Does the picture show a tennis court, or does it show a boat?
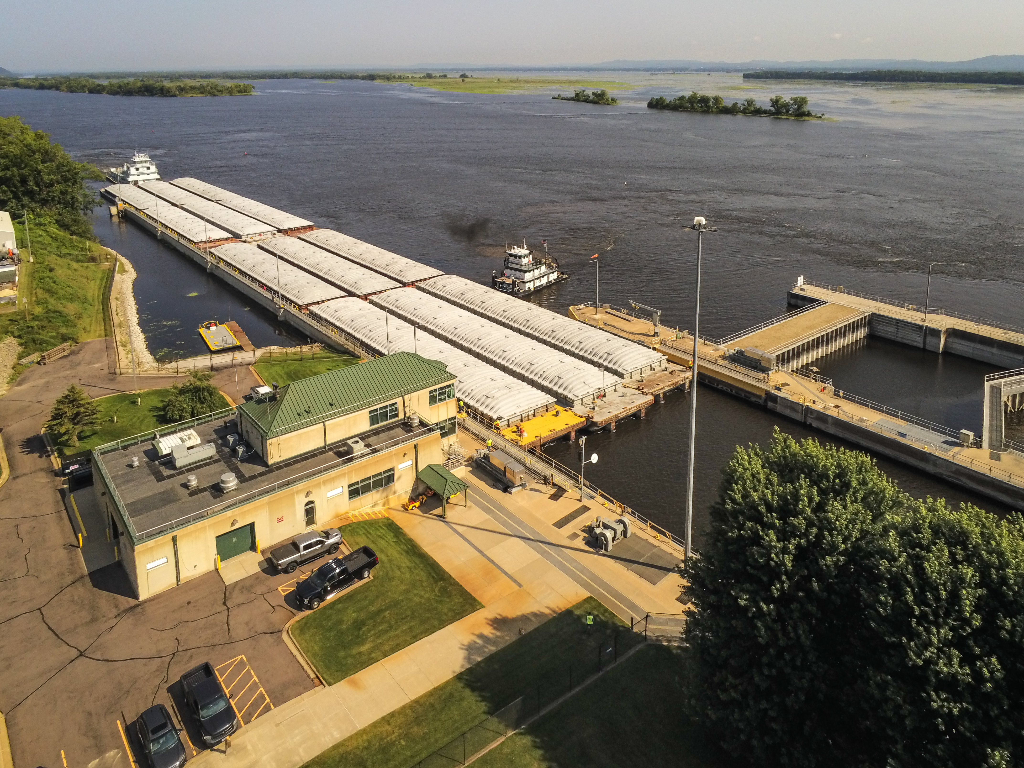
boat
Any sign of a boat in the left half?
Yes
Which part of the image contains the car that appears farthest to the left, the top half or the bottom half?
bottom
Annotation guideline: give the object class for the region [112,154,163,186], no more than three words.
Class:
boat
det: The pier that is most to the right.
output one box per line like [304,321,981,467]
[230,312,259,352]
